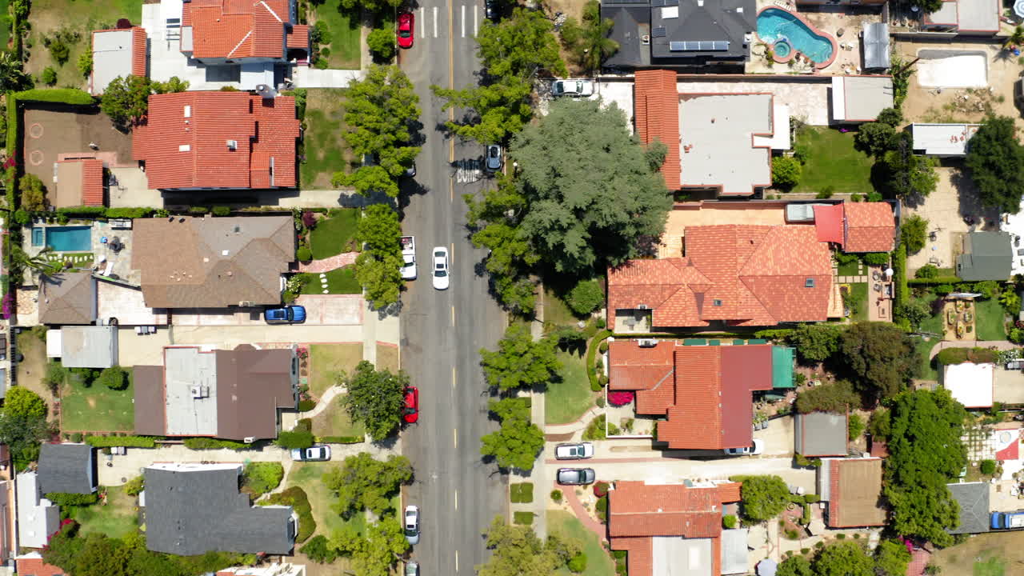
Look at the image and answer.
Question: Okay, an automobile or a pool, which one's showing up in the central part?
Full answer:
What appears in the central part is an automobile.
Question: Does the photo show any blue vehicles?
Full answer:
Yes, the photo shows a blue vehicle.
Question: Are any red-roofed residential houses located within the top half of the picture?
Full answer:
Yes, there is a red-roofed residential house within the top half of the picture.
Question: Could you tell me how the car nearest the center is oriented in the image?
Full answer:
The car nearest the center has been laid out up and down relative to the frame.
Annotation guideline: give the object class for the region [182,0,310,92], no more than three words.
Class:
house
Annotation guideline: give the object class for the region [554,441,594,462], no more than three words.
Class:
car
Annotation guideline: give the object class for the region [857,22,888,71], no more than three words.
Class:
gazebo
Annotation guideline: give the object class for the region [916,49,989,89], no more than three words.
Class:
swimming pool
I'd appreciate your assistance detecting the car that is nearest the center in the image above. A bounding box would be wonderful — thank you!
[430,247,451,290]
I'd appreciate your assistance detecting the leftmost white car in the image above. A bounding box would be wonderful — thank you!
[291,444,332,463]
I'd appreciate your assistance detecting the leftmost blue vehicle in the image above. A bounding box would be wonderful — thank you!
[264,305,307,325]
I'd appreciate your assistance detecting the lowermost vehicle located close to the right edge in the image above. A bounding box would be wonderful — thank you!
[990,510,1024,531]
